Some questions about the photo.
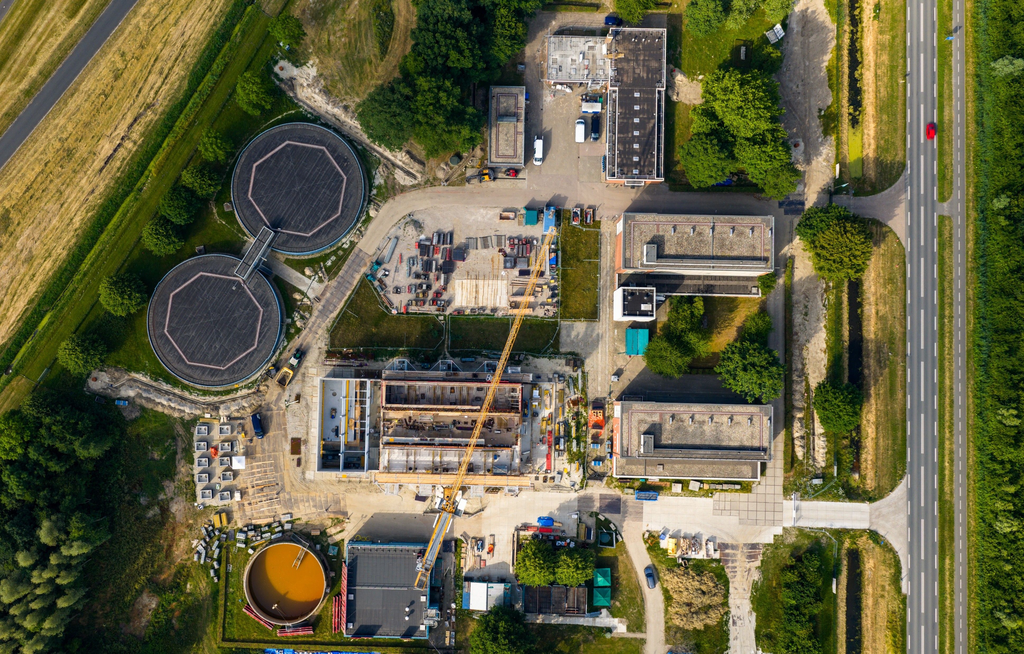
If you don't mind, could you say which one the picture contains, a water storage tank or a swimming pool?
water storage tank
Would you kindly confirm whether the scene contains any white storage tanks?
No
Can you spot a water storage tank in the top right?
No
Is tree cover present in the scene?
Yes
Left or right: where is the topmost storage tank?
left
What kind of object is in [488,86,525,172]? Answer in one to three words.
building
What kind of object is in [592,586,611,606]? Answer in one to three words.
tent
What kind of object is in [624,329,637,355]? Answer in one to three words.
shed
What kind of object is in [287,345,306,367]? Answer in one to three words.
work vehicle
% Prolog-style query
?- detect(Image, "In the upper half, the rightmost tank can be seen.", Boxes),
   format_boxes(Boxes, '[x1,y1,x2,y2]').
[231,121,369,258]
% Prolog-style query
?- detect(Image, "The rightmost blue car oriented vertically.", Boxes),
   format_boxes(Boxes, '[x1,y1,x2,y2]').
[643,566,655,589]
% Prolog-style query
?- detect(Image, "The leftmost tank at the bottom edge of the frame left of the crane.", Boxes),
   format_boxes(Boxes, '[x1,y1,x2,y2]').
[244,534,329,631]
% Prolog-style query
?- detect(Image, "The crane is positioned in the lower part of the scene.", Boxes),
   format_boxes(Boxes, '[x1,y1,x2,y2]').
[417,228,558,591]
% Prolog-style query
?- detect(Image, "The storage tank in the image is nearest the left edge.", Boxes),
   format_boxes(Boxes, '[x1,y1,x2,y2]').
[147,252,286,389]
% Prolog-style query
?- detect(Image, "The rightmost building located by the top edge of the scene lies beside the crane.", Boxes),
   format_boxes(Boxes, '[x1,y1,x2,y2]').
[602,28,666,188]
